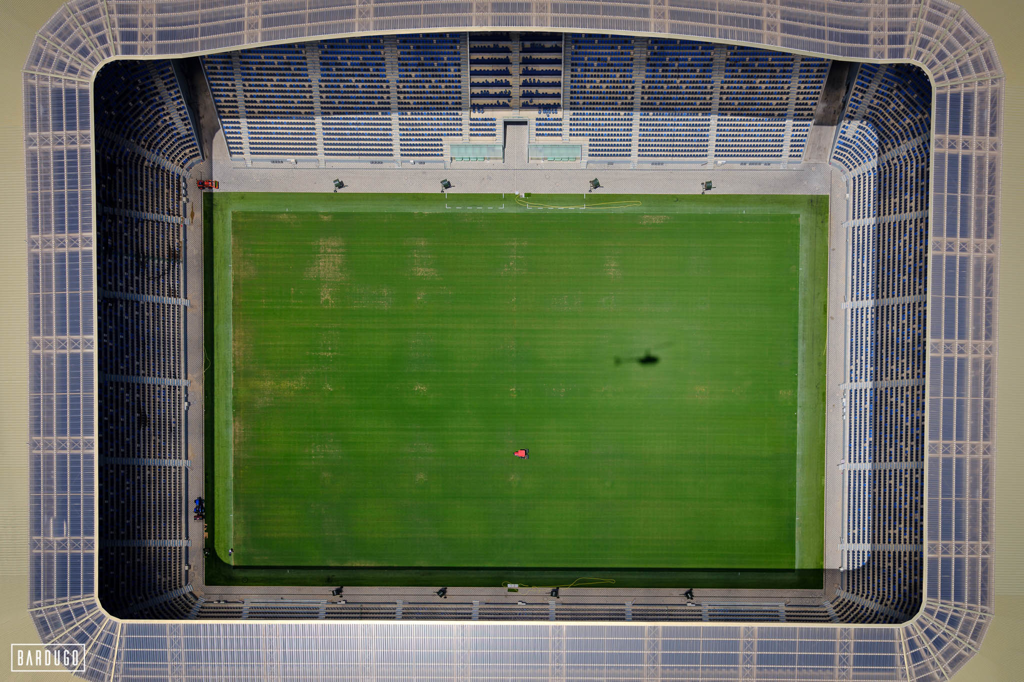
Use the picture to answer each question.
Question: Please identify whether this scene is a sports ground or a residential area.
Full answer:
The picture captures a sports ground.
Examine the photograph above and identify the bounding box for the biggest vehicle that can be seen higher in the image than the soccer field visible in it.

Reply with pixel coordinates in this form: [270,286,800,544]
[192,176,219,190]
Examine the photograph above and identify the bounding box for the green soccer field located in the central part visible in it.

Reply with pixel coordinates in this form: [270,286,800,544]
[204,193,828,589]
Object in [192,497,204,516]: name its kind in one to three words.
vehicle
